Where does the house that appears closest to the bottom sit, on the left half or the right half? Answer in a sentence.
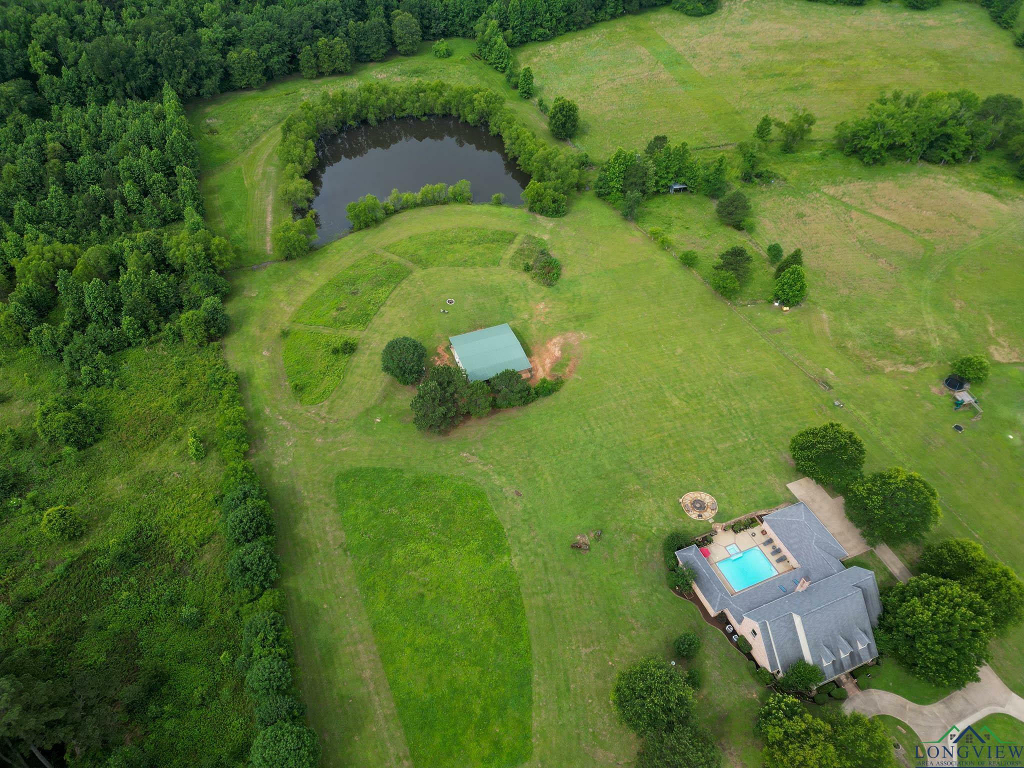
It is on the right.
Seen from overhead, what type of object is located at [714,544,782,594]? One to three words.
swimming pool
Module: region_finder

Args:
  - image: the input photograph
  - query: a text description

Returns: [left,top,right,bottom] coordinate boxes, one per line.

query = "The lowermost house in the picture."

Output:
[676,501,885,696]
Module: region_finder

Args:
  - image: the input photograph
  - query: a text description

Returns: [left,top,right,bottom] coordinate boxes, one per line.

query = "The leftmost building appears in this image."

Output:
[449,324,532,387]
